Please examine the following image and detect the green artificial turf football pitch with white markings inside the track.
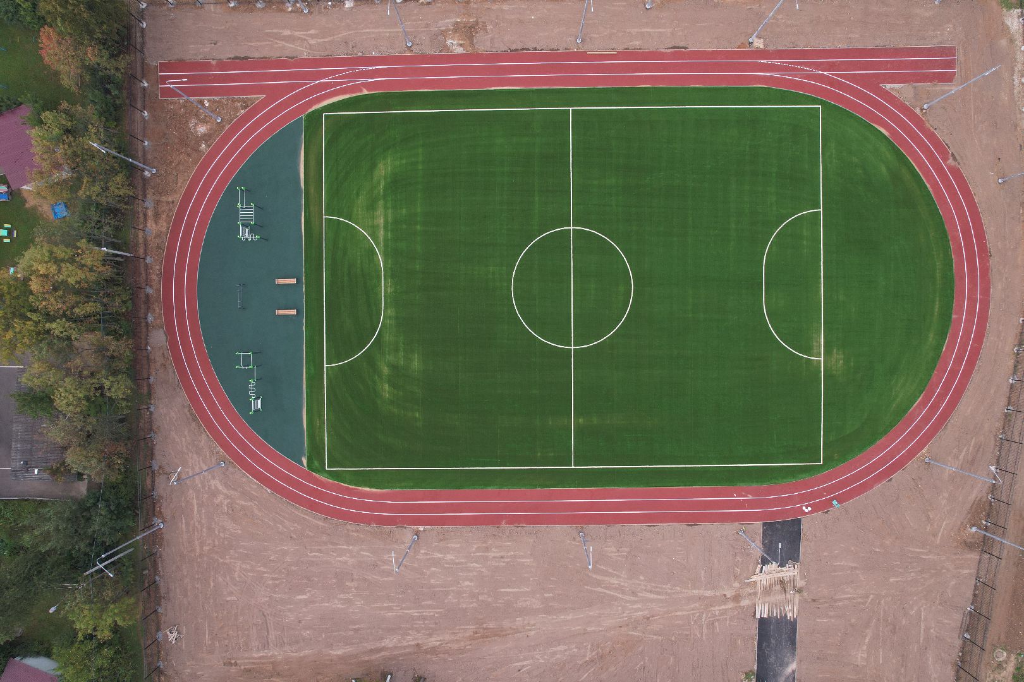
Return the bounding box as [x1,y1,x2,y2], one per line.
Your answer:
[303,86,953,490]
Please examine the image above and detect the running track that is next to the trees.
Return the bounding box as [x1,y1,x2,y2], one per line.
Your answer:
[158,44,991,528]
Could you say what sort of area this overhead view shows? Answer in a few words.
sports ground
